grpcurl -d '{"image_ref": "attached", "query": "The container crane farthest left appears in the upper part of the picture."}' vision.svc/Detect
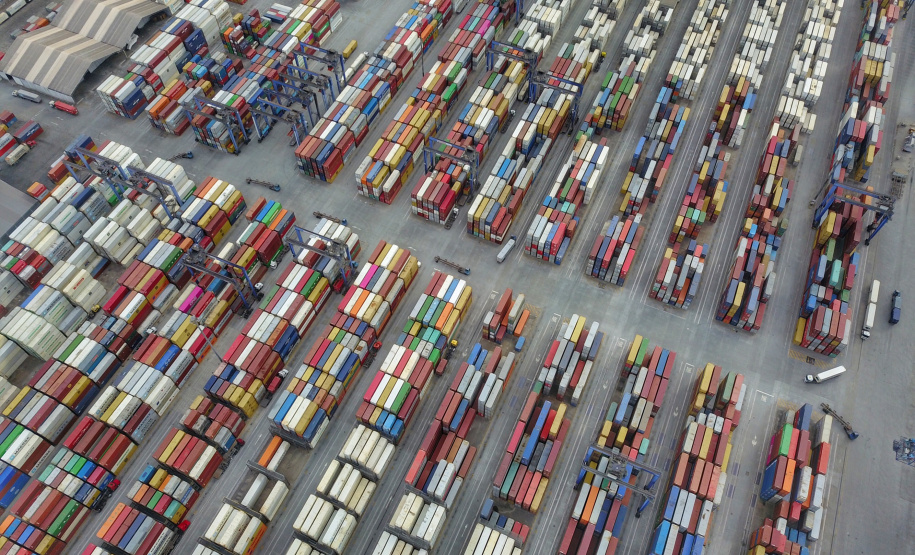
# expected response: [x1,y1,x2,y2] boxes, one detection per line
[58,145,131,205]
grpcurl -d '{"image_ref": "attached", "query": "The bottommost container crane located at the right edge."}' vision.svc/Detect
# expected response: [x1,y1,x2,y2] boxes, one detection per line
[810,178,889,244]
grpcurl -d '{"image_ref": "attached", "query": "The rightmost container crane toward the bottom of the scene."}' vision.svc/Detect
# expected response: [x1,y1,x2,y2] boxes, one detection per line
[572,441,659,521]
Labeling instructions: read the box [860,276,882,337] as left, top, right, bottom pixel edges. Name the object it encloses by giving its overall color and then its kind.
white truck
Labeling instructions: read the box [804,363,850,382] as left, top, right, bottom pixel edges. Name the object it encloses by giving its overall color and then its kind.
white vehicle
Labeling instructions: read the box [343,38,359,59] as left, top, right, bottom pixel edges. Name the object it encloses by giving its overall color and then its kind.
yellow vehicle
